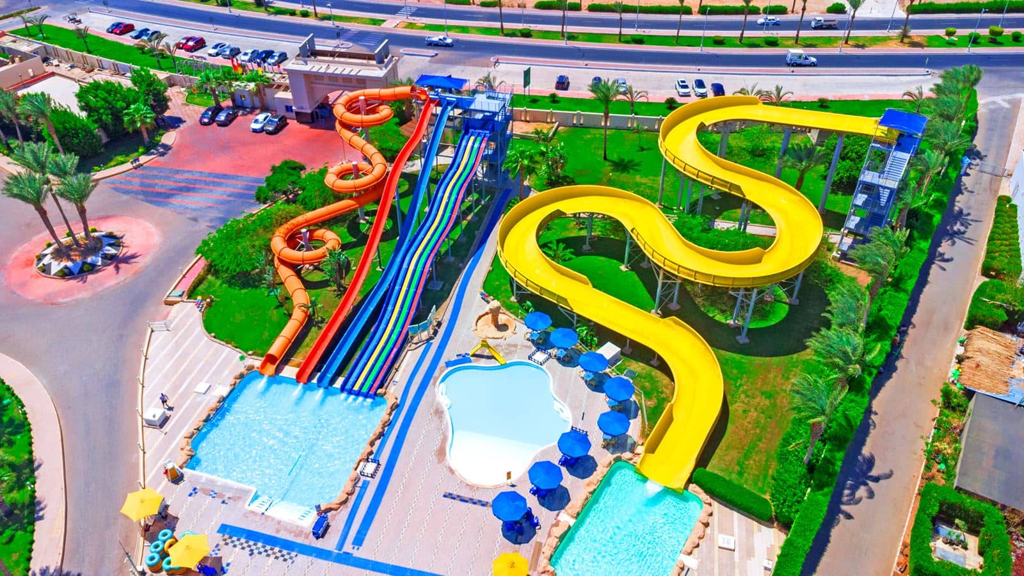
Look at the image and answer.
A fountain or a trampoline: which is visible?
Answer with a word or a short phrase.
fountain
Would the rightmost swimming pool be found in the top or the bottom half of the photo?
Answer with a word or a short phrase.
bottom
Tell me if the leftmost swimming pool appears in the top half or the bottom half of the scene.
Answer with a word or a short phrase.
bottom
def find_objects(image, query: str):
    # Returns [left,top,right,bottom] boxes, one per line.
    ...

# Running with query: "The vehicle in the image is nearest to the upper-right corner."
[809,13,844,28]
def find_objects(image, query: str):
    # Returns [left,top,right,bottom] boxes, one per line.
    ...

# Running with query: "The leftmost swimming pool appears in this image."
[183,370,388,527]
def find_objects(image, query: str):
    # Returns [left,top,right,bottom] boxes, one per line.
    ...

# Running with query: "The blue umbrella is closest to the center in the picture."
[524,314,552,332]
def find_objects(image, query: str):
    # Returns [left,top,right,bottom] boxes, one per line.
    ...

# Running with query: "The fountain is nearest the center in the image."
[473,301,517,340]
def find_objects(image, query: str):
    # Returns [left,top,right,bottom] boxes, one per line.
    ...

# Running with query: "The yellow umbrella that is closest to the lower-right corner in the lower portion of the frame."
[491,551,533,576]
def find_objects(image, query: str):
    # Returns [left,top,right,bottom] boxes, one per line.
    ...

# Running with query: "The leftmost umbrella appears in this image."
[117,485,167,527]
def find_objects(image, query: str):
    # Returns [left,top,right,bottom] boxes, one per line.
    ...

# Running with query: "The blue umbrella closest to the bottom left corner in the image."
[491,491,529,529]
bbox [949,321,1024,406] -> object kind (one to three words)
shed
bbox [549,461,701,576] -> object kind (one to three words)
swimming pool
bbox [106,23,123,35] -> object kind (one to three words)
vehicle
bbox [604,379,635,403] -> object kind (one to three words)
umbrella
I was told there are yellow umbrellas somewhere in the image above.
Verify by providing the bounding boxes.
[160,531,213,575]
[117,485,167,527]
[491,551,533,576]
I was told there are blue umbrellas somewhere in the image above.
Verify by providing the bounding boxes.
[491,491,529,529]
[558,433,592,466]
[527,463,564,499]
[578,353,608,376]
[597,413,630,437]
[604,379,635,403]
[524,314,552,332]
[549,329,578,348]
